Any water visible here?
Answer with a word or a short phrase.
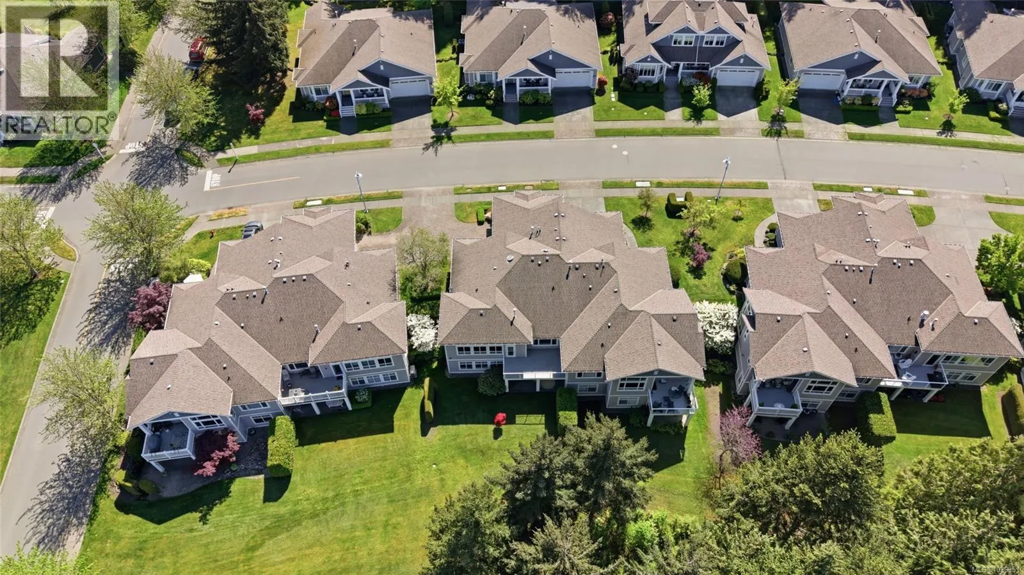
No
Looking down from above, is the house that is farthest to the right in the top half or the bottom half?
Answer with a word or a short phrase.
top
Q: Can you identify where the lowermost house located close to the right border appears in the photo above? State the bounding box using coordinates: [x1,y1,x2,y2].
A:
[738,192,1024,431]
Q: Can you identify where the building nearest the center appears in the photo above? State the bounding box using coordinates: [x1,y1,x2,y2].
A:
[435,190,705,425]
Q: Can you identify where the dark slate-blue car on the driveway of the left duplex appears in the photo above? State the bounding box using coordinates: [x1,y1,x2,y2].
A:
[239,213,265,240]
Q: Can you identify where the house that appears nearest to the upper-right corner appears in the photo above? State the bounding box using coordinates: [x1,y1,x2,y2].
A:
[942,0,1024,115]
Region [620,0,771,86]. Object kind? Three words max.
house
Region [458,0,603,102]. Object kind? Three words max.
house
